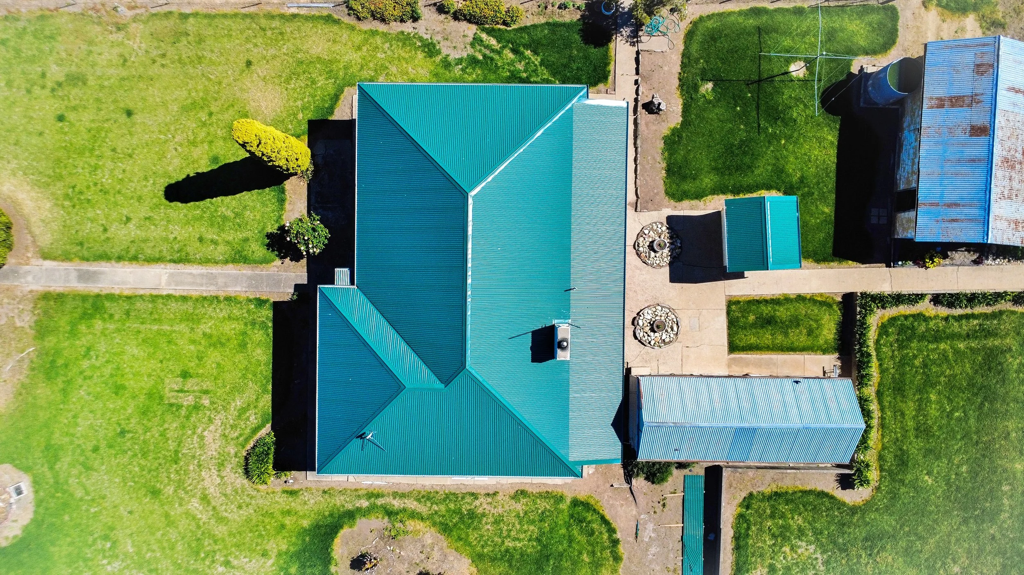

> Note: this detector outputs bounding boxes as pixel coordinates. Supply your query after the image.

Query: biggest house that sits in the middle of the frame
[314,81,631,479]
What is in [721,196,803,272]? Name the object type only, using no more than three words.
shed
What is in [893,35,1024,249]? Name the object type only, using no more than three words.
shed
